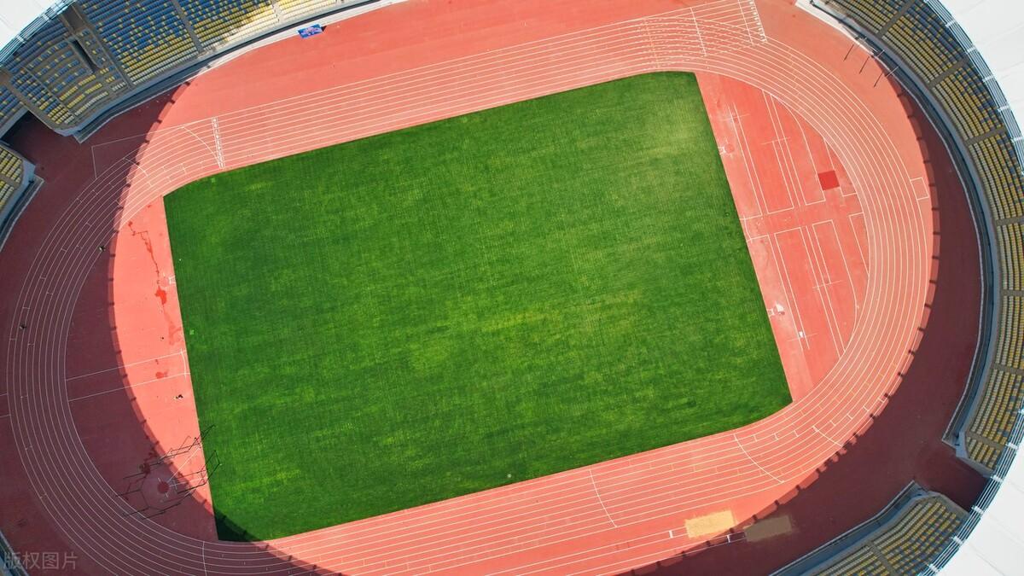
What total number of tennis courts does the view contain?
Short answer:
none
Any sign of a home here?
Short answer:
No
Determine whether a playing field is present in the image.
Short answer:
Yes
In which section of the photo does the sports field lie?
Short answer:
center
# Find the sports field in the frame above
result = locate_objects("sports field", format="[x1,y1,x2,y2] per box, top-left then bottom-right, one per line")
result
[162,71,794,544]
